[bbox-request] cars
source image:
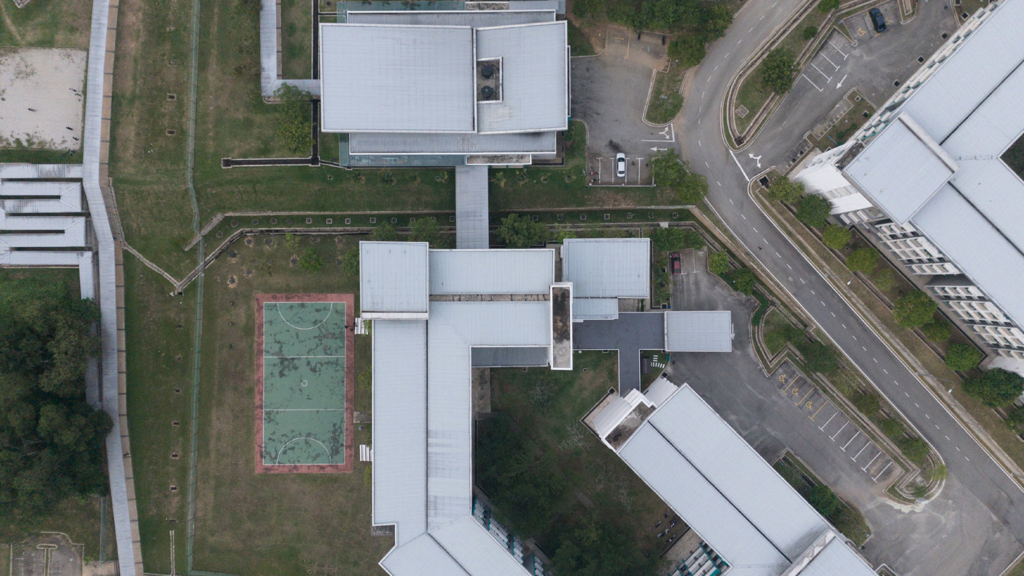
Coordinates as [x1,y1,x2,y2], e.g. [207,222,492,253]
[615,153,626,178]
[869,7,885,33]
[671,253,682,275]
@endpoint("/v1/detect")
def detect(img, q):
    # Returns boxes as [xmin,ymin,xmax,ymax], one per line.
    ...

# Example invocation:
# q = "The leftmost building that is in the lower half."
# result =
[360,241,558,576]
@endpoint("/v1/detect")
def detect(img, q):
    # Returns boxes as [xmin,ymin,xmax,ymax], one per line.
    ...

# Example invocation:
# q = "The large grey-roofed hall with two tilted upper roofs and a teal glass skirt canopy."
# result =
[319,0,571,169]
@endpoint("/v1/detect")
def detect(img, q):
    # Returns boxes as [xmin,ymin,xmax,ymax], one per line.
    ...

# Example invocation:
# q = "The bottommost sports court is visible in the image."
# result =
[255,294,354,473]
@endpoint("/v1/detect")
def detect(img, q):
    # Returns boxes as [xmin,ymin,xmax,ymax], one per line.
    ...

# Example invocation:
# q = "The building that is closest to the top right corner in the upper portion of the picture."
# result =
[799,0,1024,378]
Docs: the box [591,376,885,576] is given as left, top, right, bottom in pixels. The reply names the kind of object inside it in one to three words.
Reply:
building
